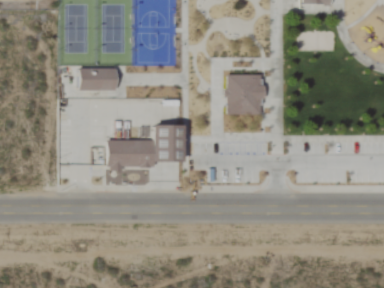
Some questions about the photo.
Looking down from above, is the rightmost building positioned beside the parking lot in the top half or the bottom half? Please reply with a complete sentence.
The rightmost building positioned beside the parking lot sits in the top half of the picture.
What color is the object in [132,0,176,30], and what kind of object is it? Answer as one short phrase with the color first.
blue basketball court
